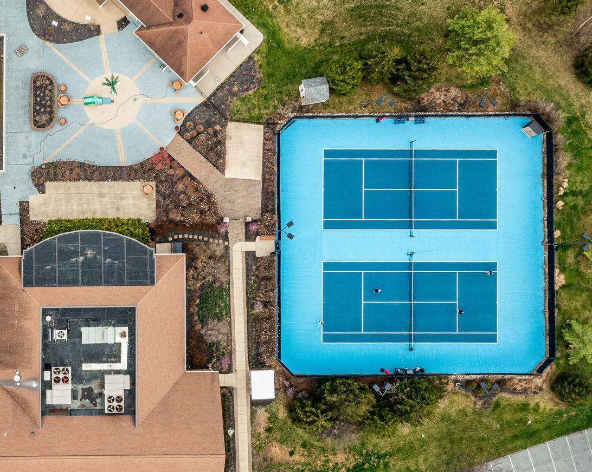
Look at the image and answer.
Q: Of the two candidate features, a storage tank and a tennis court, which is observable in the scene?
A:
tennis court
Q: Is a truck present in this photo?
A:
No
